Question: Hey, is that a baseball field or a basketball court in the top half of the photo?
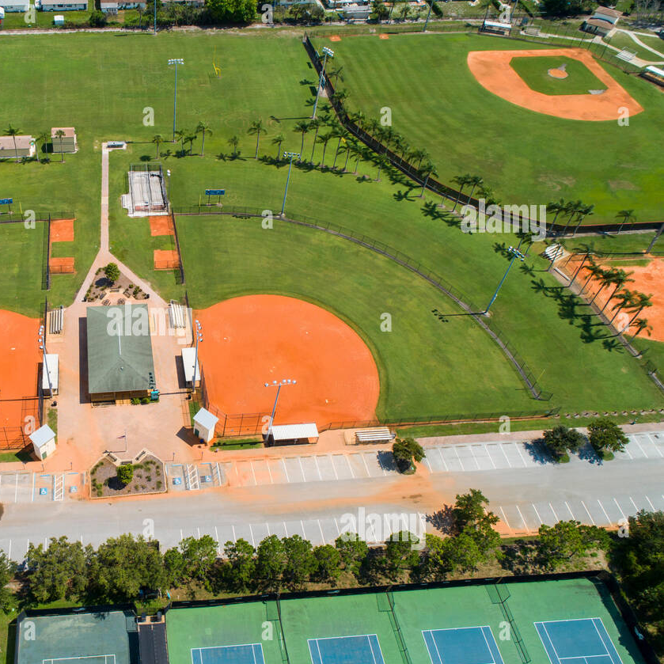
baseball field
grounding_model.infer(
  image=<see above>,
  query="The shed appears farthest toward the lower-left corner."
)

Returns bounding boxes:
[29,424,55,458]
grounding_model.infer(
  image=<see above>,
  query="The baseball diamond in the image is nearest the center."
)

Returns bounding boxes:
[173,212,546,434]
